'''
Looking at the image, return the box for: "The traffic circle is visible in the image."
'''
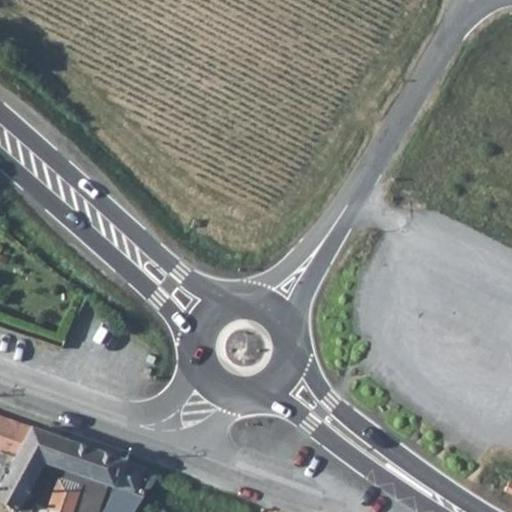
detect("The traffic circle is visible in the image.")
[178,281,311,414]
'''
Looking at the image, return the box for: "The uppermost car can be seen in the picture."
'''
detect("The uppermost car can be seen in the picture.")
[78,178,99,199]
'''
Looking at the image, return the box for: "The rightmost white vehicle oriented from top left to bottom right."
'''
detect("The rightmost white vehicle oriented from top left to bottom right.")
[271,400,294,418]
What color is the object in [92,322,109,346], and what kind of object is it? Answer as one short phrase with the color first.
white vehicle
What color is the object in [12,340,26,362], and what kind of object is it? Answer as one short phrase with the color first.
white vehicle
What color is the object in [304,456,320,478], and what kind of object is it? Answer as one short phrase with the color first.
white car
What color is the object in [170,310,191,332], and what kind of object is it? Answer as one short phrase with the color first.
white car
